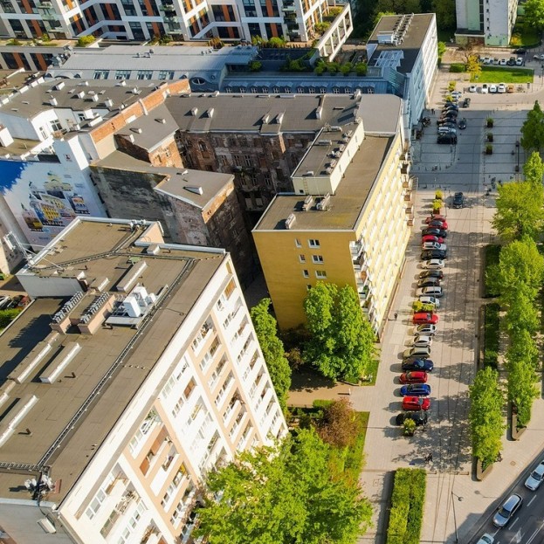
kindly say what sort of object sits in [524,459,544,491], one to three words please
car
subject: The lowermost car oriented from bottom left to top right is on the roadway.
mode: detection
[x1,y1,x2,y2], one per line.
[491,493,524,530]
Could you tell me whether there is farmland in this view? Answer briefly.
No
